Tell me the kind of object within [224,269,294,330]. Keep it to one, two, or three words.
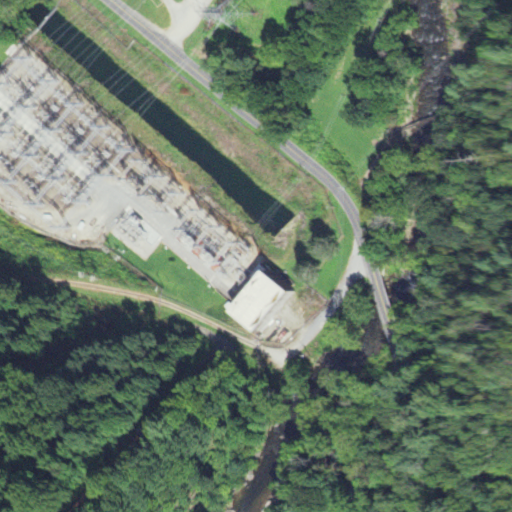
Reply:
building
